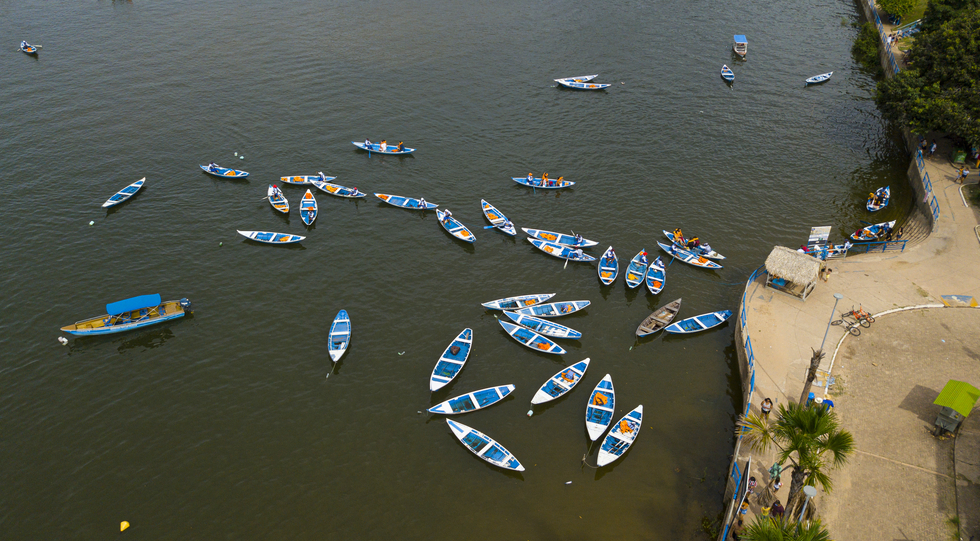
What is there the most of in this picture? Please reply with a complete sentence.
The bulk of the photo consists of water.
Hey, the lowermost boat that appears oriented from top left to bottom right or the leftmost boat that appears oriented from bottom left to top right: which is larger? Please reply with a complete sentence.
The lowermost boat that appears oriented from top left to bottom right is larger than the leftmost boat that appears oriented from bottom left to top right.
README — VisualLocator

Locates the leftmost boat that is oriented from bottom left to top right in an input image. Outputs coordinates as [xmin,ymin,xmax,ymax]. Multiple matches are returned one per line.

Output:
[101,177,145,211]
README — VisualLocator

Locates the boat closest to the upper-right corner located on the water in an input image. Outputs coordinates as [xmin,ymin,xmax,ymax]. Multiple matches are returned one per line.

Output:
[806,72,834,86]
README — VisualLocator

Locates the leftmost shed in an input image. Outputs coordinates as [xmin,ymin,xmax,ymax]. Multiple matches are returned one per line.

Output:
[765,242,826,300]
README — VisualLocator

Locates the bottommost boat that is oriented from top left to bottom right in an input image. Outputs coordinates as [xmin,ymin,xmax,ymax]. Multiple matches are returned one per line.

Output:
[447,418,524,473]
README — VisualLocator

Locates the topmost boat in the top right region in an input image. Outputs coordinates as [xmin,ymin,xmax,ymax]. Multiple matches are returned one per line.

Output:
[732,28,748,61]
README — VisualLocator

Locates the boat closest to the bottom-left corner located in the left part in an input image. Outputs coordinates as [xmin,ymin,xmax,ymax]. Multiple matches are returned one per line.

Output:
[59,291,196,334]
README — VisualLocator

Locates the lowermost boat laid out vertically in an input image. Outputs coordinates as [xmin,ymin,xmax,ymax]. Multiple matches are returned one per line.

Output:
[586,373,615,443]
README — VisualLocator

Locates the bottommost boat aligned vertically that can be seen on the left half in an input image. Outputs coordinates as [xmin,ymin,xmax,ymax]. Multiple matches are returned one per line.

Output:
[328,309,351,365]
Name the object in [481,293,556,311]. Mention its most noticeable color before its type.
white boat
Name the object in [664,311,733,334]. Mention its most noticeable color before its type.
blue boat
